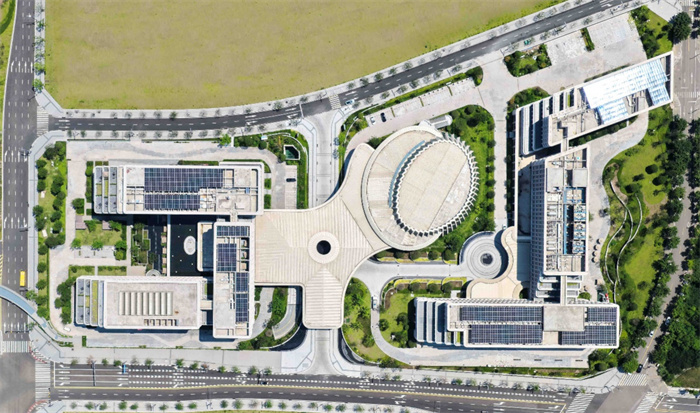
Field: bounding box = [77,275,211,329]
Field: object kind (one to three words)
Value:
building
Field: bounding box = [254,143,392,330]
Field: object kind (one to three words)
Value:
building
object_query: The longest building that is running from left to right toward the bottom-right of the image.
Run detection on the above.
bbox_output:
[414,295,619,348]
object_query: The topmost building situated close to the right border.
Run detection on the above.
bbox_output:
[510,52,672,156]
